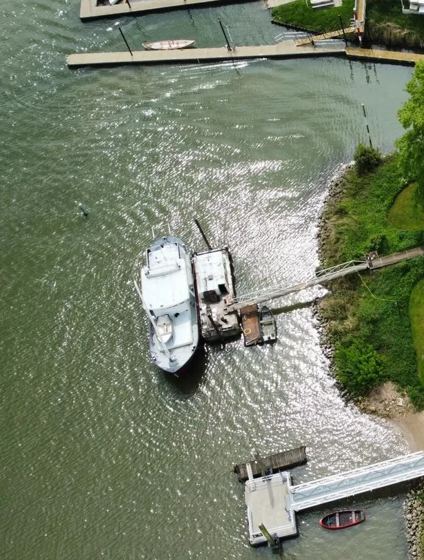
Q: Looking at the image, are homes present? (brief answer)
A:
No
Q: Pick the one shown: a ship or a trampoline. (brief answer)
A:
ship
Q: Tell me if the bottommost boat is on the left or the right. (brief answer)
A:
right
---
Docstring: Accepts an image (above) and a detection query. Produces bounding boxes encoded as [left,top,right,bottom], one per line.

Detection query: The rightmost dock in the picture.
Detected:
[347,47,424,65]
